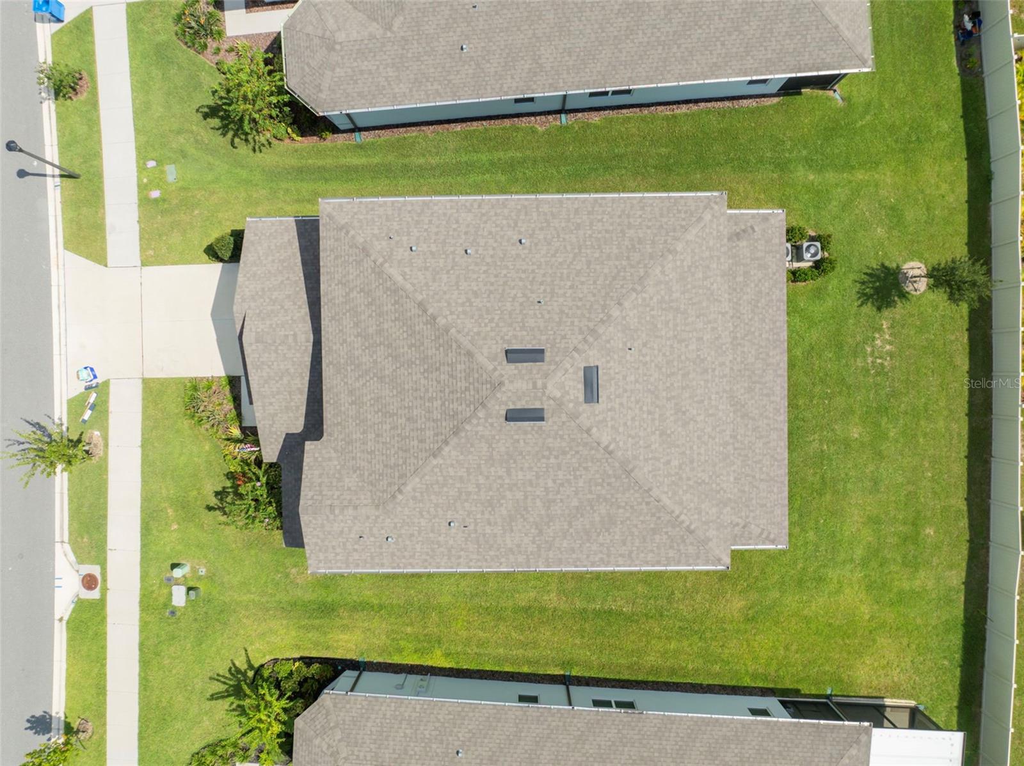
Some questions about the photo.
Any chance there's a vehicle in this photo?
No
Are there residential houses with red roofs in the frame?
No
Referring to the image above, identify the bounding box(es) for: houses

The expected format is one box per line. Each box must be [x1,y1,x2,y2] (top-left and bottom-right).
[277,0,876,133]
[291,667,966,766]
[232,191,790,576]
